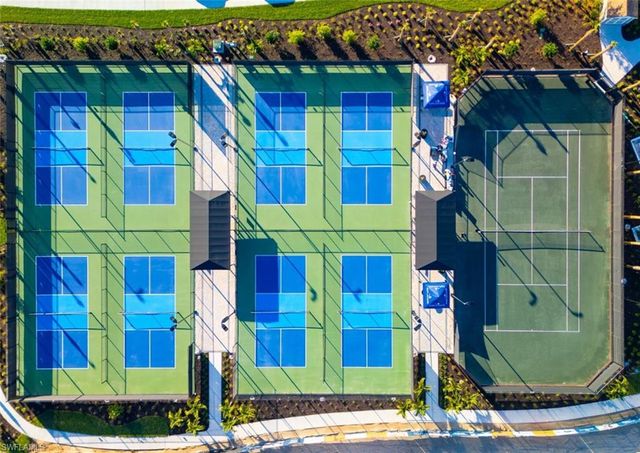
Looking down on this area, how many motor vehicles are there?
0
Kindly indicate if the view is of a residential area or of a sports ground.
sports ground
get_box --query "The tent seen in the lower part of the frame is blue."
[419,280,449,309]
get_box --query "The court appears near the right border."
[459,79,612,386]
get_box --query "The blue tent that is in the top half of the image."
[419,82,449,112]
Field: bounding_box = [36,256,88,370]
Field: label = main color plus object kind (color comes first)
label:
blue sports court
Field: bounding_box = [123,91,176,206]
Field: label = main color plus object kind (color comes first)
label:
blue sports court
